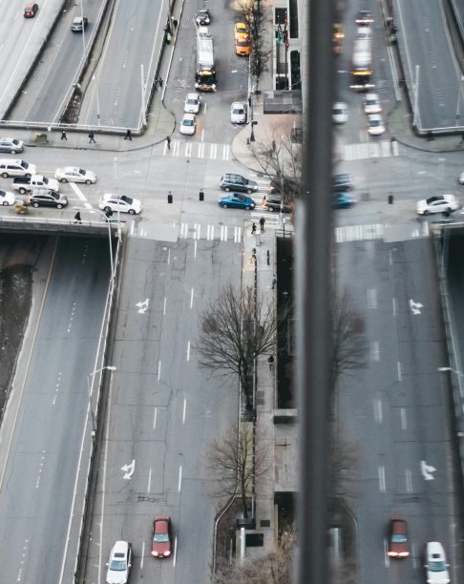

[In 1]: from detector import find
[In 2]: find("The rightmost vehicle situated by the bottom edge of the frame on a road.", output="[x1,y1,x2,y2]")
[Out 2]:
[148,517,173,559]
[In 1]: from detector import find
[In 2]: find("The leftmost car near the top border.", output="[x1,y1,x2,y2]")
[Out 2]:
[22,3,39,20]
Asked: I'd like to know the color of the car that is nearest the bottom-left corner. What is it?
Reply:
white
